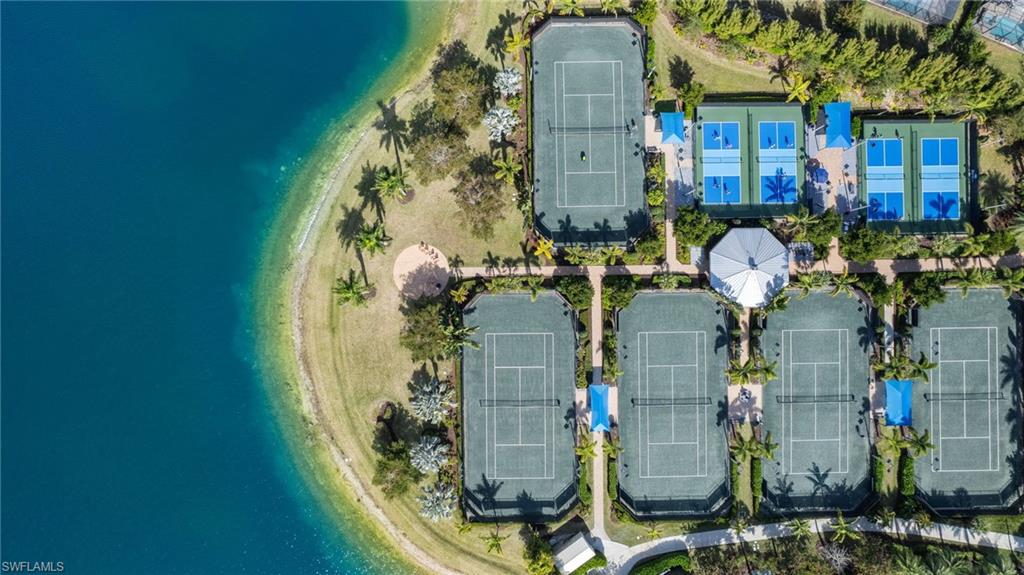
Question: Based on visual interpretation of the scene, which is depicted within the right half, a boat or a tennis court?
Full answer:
The one visible within the right half is a tennis court.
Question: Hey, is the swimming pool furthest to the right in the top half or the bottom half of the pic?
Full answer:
The top half of the photo is where the swimming pool furthest to the right is.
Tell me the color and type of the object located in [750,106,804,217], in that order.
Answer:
blue sports court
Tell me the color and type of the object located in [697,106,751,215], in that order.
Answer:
blue sports court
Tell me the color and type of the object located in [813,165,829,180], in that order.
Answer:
blue umbrella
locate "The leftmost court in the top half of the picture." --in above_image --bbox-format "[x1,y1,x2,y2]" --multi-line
[533,24,648,244]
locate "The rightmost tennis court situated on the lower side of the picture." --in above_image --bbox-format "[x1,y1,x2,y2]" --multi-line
[913,287,1020,508]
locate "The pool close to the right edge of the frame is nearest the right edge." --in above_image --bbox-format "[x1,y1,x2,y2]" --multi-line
[982,10,1024,47]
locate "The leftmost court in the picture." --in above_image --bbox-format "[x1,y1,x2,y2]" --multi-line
[463,292,577,513]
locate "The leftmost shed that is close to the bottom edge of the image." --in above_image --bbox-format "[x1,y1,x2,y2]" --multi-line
[552,529,596,575]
